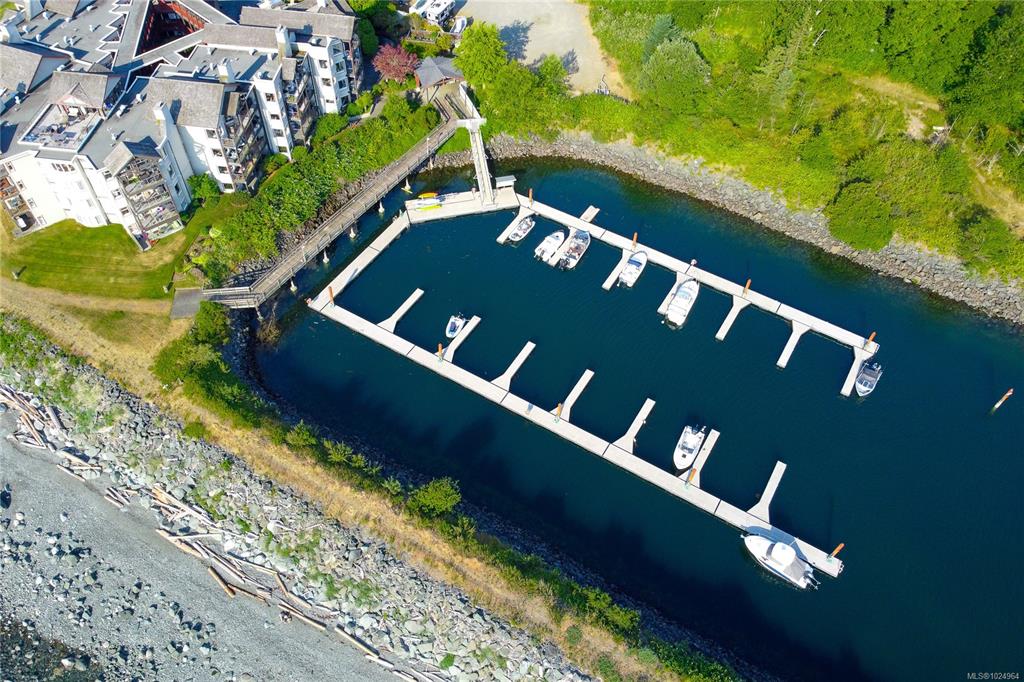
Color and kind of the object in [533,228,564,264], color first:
white boat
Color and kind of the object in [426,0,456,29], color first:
white vehicle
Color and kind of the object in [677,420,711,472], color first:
white boat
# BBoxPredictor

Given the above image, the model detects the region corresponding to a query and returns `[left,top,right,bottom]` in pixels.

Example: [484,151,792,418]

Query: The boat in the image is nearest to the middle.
[447,310,470,339]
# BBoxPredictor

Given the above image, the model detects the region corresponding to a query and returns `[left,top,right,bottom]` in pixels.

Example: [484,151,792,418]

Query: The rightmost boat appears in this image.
[854,360,884,398]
